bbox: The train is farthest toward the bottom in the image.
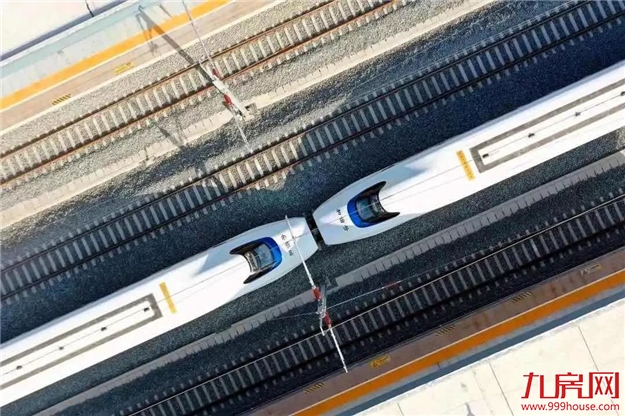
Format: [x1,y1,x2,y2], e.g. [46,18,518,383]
[0,215,320,404]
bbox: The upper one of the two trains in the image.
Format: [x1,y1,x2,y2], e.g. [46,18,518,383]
[312,59,625,245]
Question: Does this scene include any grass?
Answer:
No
